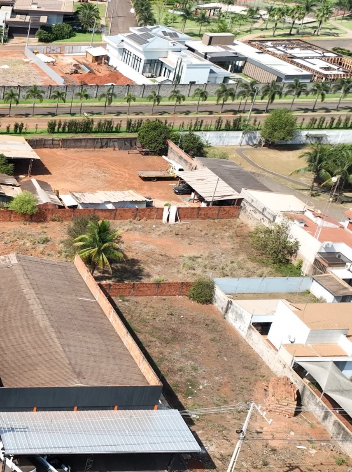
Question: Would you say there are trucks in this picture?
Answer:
Yes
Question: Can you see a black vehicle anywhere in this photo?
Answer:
Yes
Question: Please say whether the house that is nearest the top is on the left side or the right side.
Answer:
left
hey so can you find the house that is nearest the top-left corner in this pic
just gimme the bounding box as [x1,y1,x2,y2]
[0,0,73,37]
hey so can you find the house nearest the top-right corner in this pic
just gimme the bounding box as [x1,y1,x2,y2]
[185,34,313,94]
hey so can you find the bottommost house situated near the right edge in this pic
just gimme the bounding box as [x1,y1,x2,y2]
[236,296,352,433]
